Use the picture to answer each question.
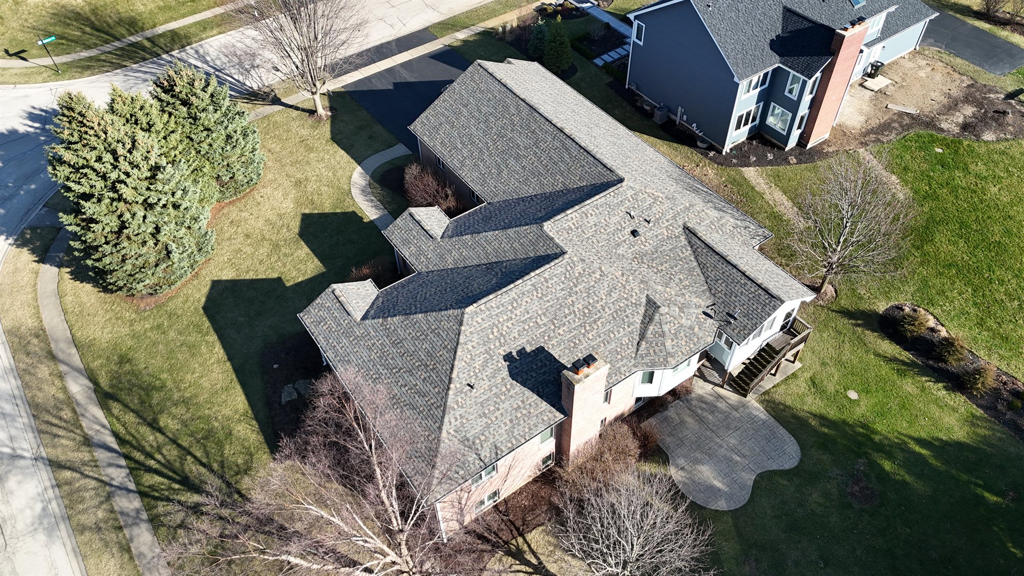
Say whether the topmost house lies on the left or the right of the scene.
right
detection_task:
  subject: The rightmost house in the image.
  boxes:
[624,0,941,156]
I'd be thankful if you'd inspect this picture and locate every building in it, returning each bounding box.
[297,58,817,541]
[624,0,941,156]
